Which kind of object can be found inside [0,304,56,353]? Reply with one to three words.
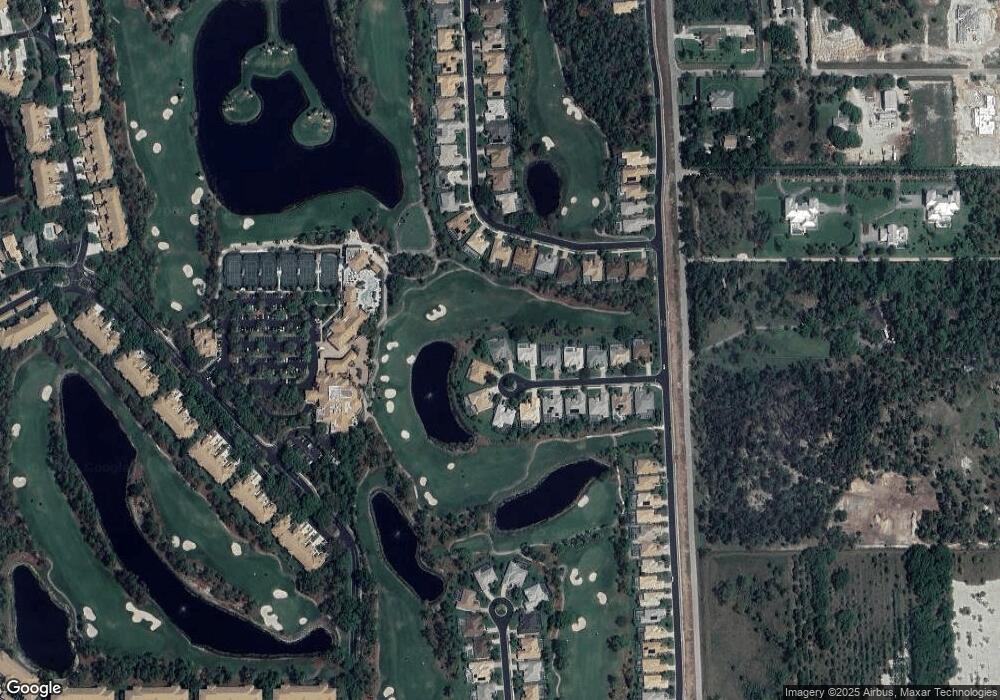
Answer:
building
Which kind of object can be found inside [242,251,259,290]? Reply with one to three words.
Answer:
tennis court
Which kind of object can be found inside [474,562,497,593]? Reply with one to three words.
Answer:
house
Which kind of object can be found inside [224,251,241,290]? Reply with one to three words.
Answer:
tennis court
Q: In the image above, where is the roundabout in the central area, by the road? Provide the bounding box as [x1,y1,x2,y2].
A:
[497,372,536,397]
